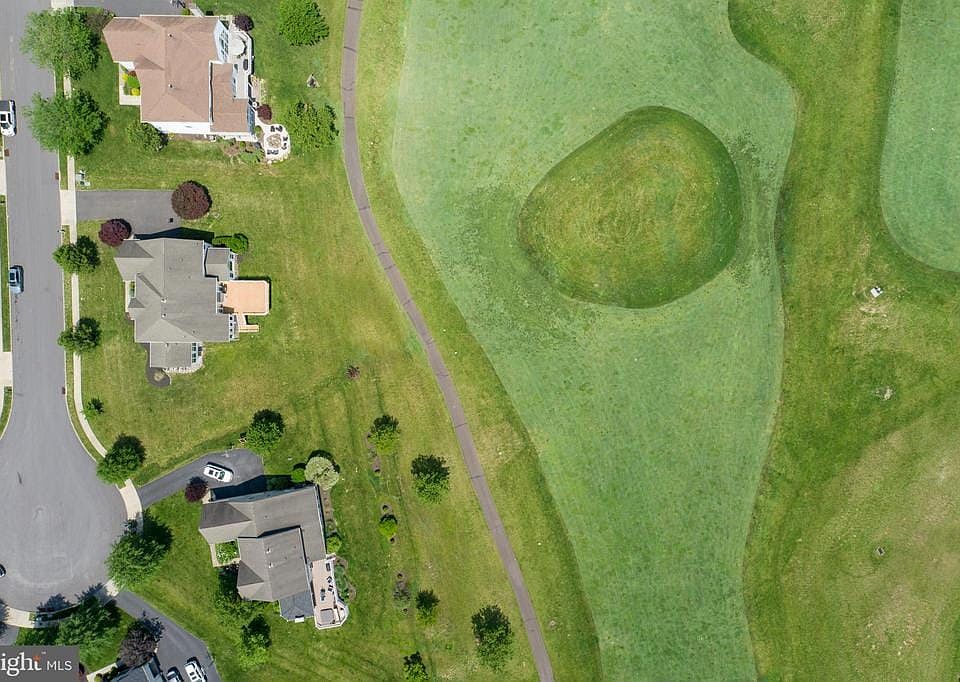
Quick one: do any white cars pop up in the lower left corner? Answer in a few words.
Yes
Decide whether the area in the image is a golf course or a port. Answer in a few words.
golf course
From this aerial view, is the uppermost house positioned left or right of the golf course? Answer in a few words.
on its left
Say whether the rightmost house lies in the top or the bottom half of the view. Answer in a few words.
bottom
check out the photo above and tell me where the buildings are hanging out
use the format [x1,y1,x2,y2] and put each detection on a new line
[114,237,271,367]
[199,484,348,633]
[102,15,261,136]
[109,658,164,682]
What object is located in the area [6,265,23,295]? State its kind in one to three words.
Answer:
car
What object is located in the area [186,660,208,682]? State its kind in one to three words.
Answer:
car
